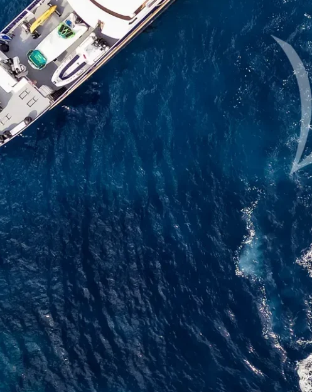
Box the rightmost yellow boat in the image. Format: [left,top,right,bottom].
[21,2,64,38]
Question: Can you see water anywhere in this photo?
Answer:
Yes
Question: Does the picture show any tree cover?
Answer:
No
